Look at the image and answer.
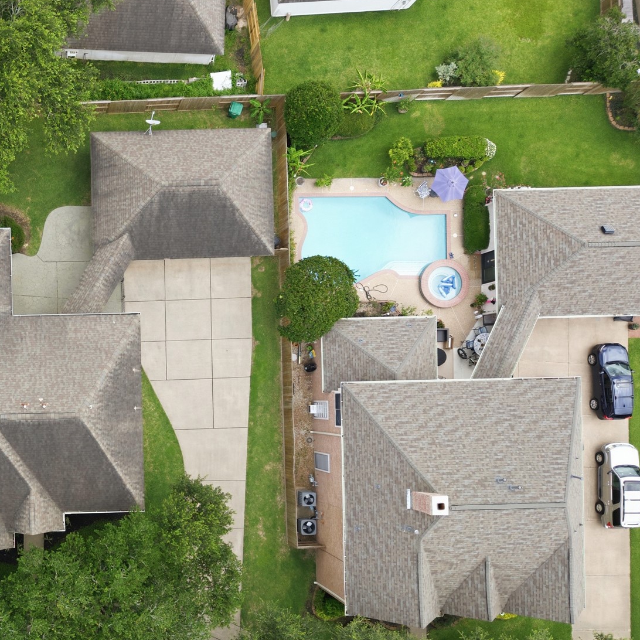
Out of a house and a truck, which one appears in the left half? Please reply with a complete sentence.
The one visible in the left half is a house.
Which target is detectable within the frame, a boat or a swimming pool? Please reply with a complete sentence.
The one in the frame is a swimming pool.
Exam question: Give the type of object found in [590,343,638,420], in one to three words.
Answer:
car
